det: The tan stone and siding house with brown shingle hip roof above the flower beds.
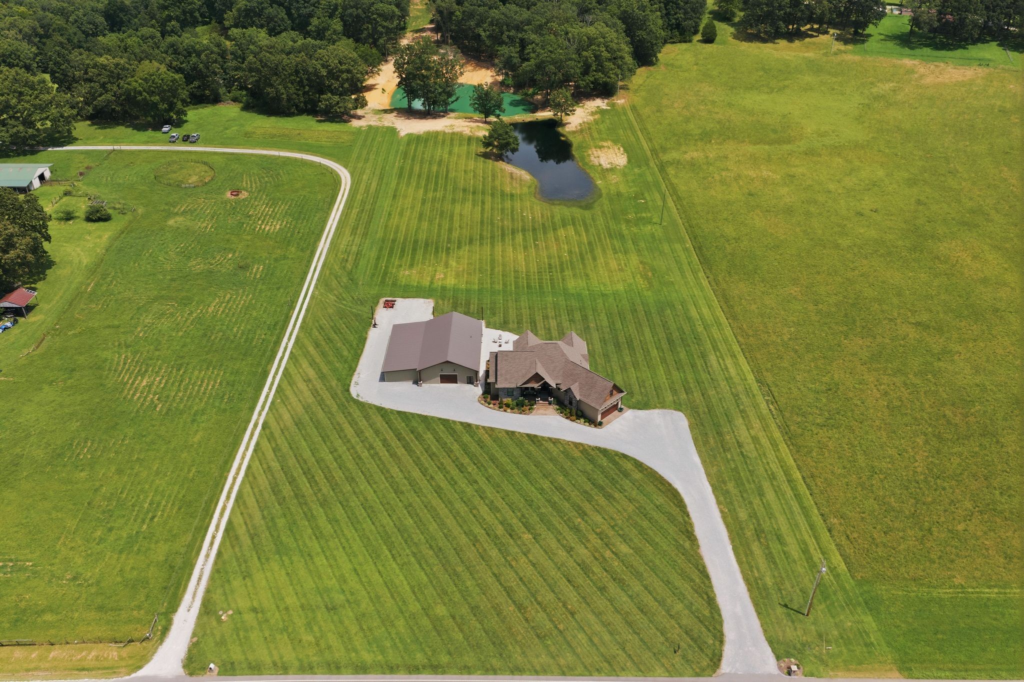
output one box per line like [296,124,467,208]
[488,330,627,421]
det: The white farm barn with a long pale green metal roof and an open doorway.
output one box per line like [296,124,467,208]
[0,163,55,193]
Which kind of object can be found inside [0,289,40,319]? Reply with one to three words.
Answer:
shed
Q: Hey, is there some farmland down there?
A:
Yes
